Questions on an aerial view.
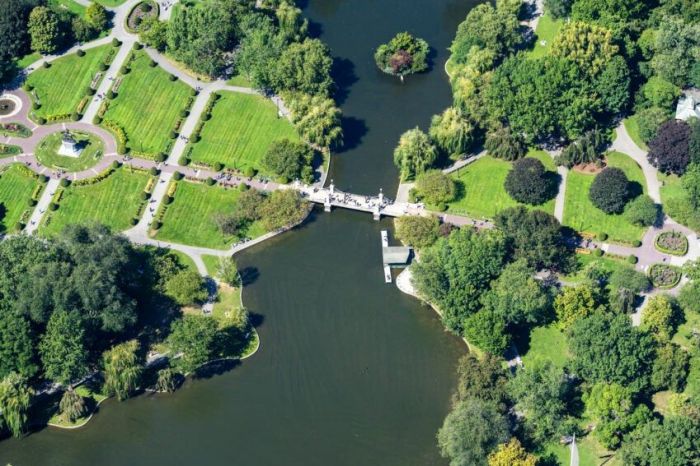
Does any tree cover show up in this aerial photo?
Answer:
Yes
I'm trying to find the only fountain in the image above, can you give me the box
[0,94,22,117]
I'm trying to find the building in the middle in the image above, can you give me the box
[383,246,409,275]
